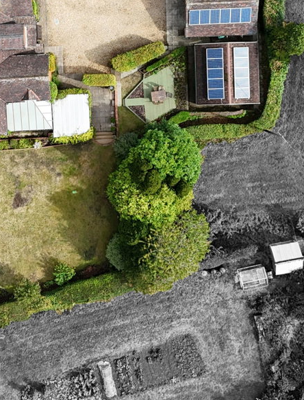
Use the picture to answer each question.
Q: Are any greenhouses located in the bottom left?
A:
No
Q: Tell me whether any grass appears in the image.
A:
Yes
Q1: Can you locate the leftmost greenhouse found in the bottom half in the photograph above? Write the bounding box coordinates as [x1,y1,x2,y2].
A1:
[234,263,269,290]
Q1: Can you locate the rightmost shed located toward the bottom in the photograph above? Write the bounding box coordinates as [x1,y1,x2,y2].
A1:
[268,240,303,273]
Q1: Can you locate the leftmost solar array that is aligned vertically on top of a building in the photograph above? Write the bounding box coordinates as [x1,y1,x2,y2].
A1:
[206,47,225,100]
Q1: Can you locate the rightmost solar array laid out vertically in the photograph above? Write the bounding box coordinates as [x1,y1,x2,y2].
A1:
[233,46,250,100]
